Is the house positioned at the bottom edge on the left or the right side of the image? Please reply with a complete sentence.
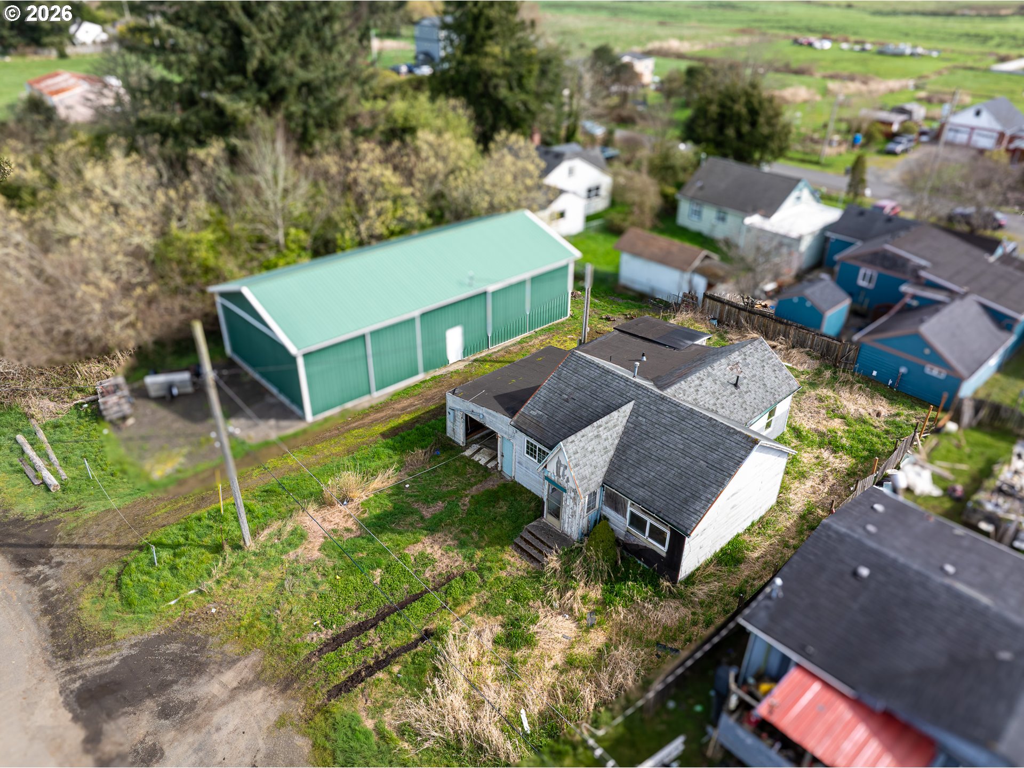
The house positioned at the bottom edge sits on the right side.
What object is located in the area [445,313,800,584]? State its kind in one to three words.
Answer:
house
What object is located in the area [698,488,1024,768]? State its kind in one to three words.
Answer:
house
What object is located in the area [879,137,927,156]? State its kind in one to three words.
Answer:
vehicle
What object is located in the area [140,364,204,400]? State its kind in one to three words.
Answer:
trailer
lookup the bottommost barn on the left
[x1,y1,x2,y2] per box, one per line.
[205,207,582,423]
